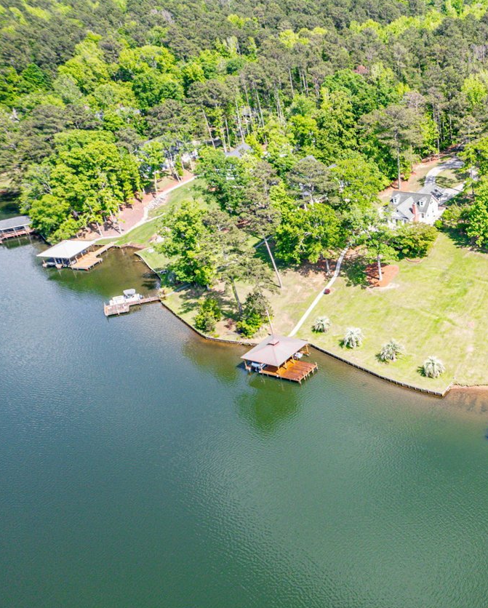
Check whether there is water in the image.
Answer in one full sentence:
Yes, there's water in this view.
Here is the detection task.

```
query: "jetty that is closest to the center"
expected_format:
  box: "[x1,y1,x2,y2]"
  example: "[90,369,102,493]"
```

[107,297,161,319]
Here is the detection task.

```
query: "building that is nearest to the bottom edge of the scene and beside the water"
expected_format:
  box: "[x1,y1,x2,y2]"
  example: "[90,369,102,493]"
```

[241,333,323,386]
